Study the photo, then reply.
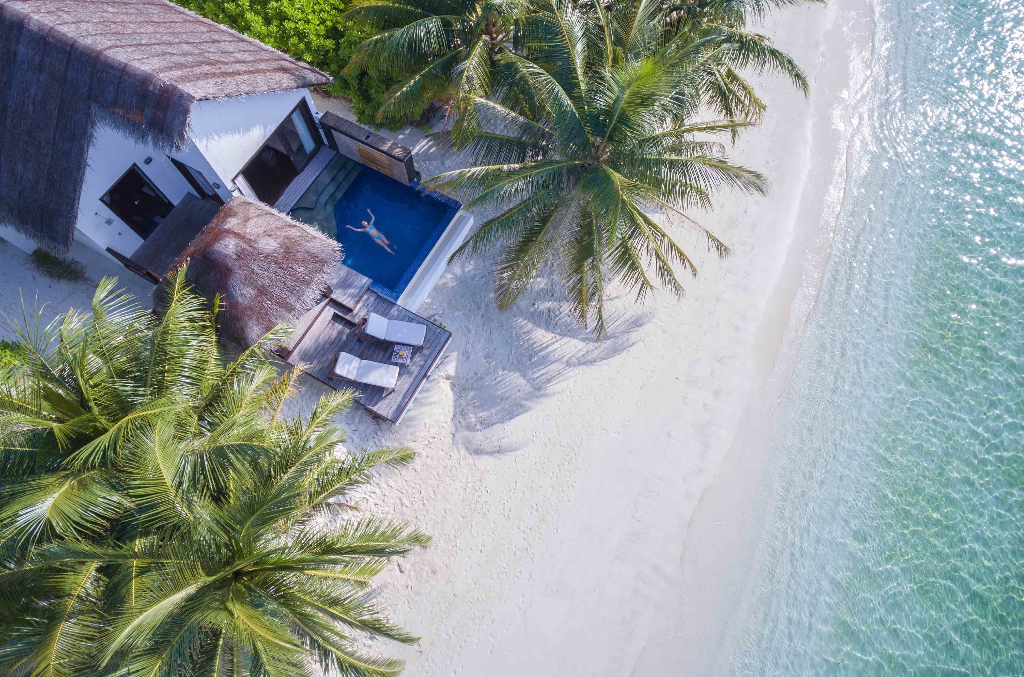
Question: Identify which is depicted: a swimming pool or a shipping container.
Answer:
swimming pool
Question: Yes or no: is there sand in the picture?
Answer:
Yes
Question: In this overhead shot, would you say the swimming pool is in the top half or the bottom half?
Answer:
top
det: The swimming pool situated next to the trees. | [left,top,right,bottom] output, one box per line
[293,150,480,316]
